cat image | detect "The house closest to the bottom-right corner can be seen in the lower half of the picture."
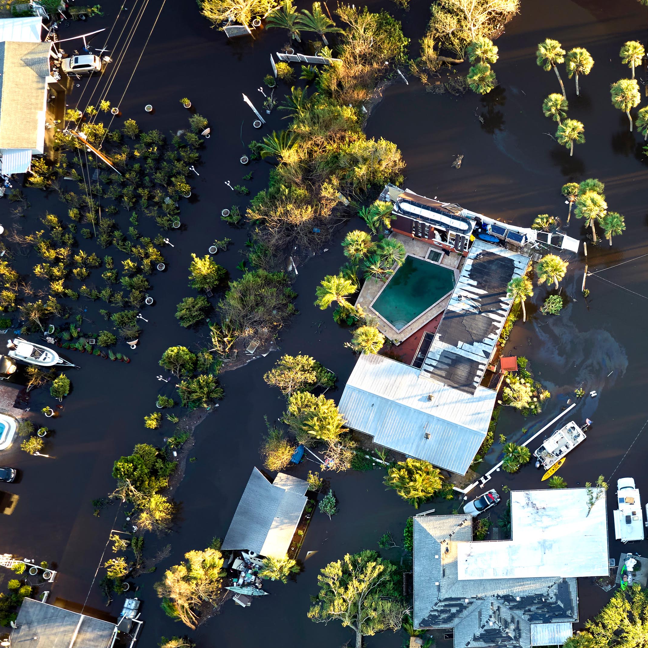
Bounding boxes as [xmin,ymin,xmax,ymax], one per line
[413,485,613,648]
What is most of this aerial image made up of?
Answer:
water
